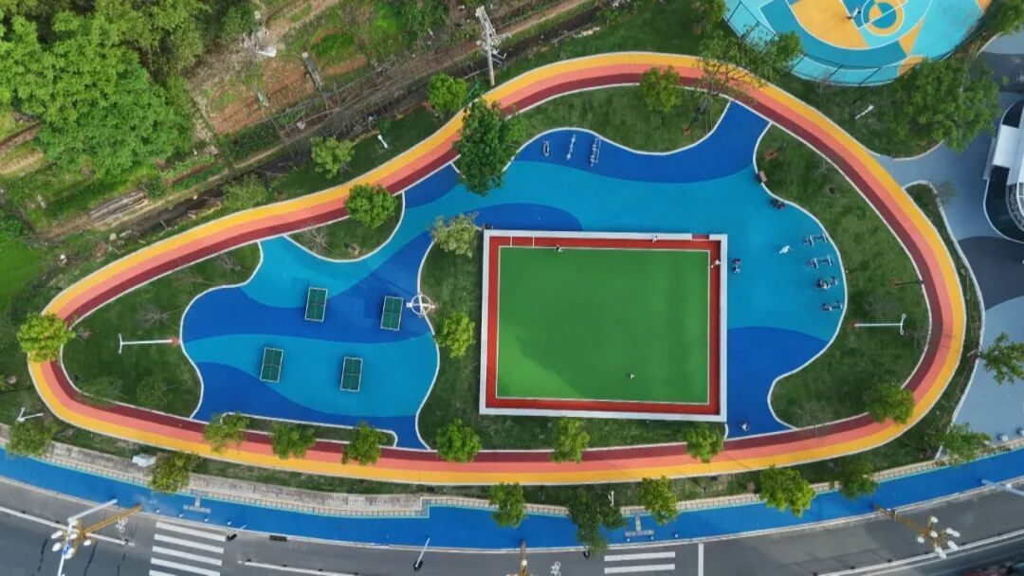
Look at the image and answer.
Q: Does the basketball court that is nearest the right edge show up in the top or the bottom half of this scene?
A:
top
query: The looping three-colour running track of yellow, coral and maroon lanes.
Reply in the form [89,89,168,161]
[27,50,968,487]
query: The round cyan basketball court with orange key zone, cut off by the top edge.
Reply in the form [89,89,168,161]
[712,0,990,87]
